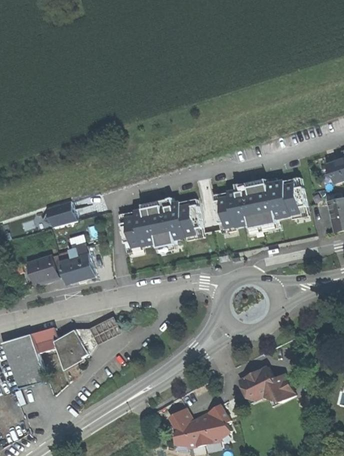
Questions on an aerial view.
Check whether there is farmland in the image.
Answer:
Yes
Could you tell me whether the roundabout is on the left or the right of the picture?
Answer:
right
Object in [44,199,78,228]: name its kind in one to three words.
house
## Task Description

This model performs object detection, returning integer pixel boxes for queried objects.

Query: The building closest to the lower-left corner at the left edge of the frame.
[2,336,42,388]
